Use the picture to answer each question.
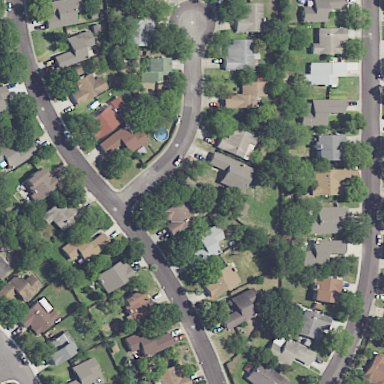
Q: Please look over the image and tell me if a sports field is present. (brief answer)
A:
No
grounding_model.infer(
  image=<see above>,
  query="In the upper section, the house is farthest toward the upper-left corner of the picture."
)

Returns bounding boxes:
[48,0,80,29]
